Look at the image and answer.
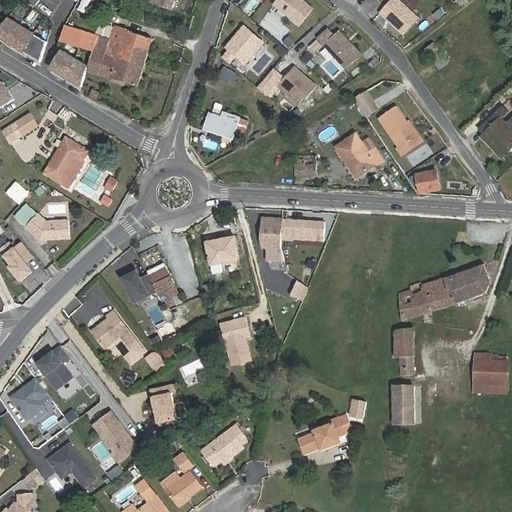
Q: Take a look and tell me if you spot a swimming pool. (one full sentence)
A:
Yes, the frame does contain a swimming pool.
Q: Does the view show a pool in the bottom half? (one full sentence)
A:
Yes, I can see a pool in the bottom half.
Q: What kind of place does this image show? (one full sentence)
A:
This looks like a residential area.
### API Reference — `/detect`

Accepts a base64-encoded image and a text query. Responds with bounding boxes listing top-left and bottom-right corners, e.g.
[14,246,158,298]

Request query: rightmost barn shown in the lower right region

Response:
[472,352,509,394]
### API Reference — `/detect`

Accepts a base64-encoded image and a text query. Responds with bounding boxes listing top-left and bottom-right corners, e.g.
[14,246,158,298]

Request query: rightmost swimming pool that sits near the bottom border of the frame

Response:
[114,485,137,504]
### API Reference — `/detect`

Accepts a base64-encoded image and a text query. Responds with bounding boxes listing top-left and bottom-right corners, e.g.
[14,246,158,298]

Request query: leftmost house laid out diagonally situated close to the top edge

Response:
[0,17,48,64]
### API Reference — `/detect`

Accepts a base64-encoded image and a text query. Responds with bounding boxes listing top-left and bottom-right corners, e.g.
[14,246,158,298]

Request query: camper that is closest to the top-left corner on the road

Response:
[36,2,52,16]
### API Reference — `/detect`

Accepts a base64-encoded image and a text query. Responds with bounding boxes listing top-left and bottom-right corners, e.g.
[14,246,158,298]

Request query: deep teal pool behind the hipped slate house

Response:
[146,303,165,326]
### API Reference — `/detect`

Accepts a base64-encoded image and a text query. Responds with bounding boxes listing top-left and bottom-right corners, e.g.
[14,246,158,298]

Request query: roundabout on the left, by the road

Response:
[140,158,210,230]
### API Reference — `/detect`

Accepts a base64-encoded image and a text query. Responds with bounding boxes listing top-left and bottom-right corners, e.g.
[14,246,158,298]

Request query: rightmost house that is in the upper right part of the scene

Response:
[478,97,512,134]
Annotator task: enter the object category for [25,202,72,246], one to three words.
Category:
house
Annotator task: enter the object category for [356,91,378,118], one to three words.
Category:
barn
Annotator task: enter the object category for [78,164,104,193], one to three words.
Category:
swimming pool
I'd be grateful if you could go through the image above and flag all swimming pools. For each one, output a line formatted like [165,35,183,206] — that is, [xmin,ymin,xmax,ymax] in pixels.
[78,164,104,193]
[146,303,165,326]
[244,0,259,11]
[255,52,273,76]
[76,186,90,198]
[114,485,137,504]
[418,20,430,32]
[318,126,336,142]
[202,139,219,152]
[91,441,112,463]
[42,414,58,428]
[448,180,462,190]
[323,59,340,78]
